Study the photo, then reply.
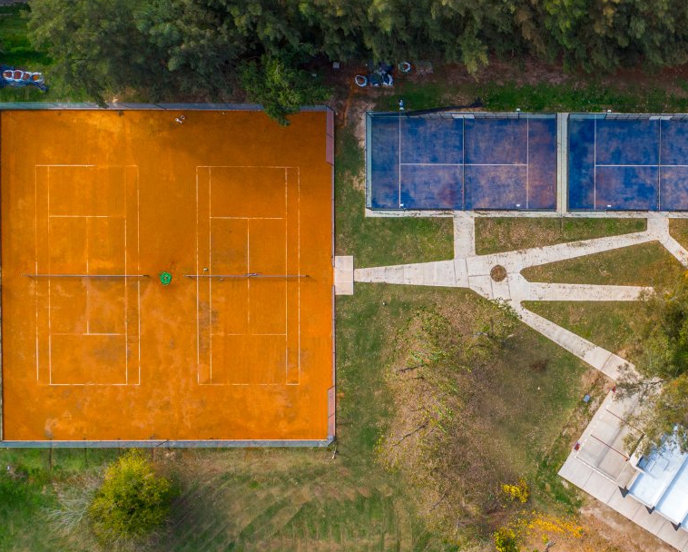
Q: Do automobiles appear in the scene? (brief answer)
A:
No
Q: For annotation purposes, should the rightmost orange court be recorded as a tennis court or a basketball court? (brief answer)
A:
tennis court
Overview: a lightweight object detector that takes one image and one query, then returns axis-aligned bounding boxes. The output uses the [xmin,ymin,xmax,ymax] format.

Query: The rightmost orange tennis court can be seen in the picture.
[168,109,333,440]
